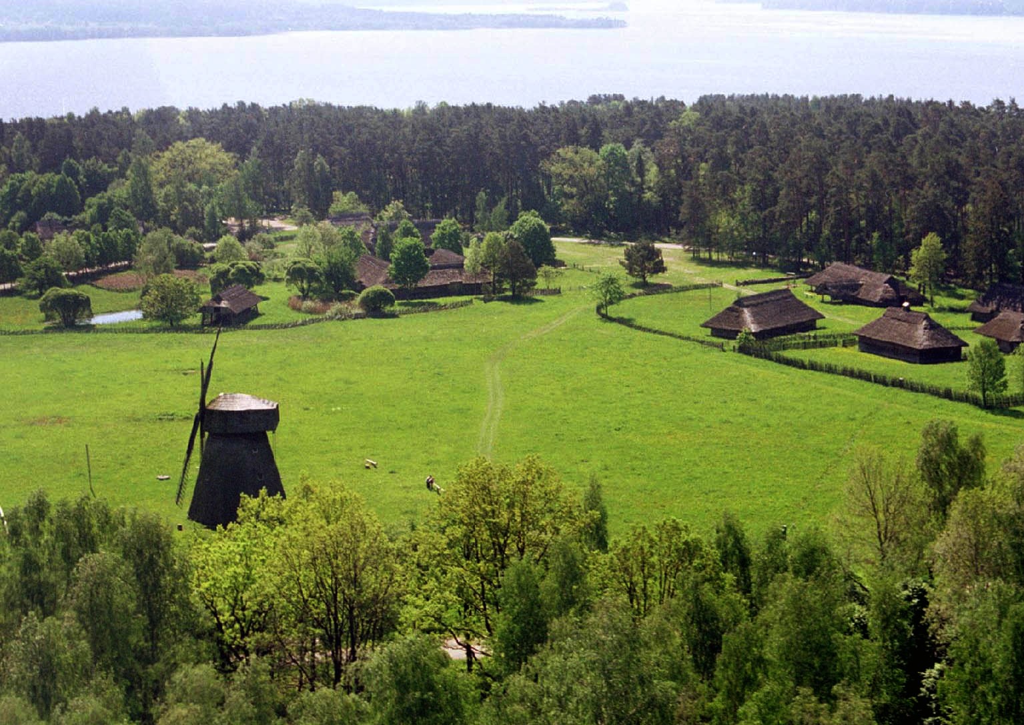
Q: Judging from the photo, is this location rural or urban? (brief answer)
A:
rural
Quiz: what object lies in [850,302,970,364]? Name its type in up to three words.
house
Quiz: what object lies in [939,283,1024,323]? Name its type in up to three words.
house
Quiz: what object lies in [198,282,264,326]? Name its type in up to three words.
shed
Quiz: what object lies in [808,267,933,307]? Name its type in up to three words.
barn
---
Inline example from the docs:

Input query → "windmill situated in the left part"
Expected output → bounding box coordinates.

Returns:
[171,320,287,529]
